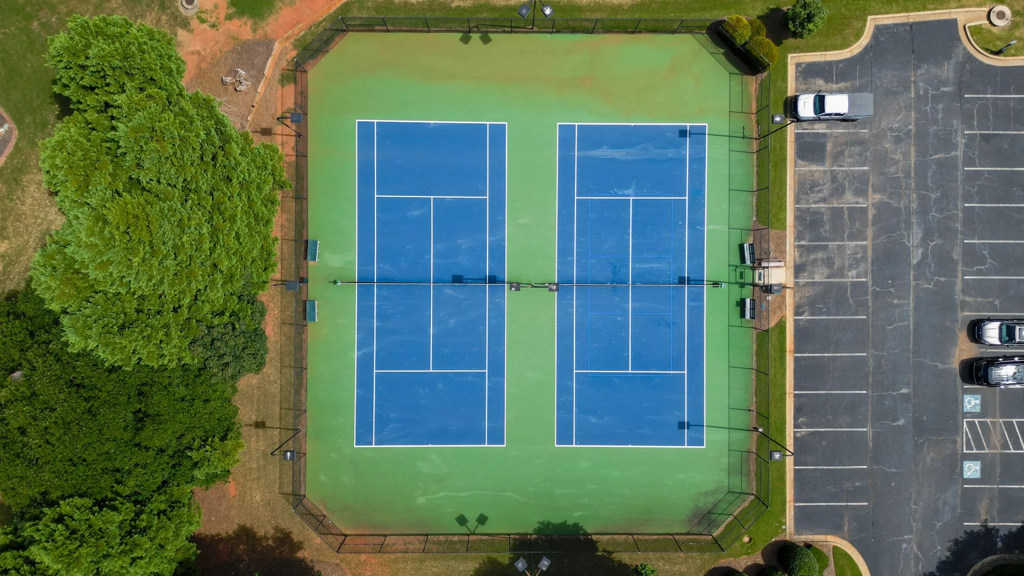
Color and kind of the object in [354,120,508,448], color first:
blue tennis court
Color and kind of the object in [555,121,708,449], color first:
blue tennis court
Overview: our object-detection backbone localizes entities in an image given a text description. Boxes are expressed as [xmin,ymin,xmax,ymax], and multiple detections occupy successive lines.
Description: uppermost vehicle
[792,88,873,122]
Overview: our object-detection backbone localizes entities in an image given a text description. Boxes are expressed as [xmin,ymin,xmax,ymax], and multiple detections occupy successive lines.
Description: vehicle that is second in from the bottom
[973,316,1024,349]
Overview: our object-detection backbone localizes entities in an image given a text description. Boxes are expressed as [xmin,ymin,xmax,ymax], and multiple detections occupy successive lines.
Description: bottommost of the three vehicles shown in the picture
[971,356,1024,386]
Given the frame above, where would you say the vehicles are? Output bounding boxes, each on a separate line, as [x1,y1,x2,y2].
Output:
[973,316,1024,349]
[971,356,1024,386]
[792,88,873,122]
